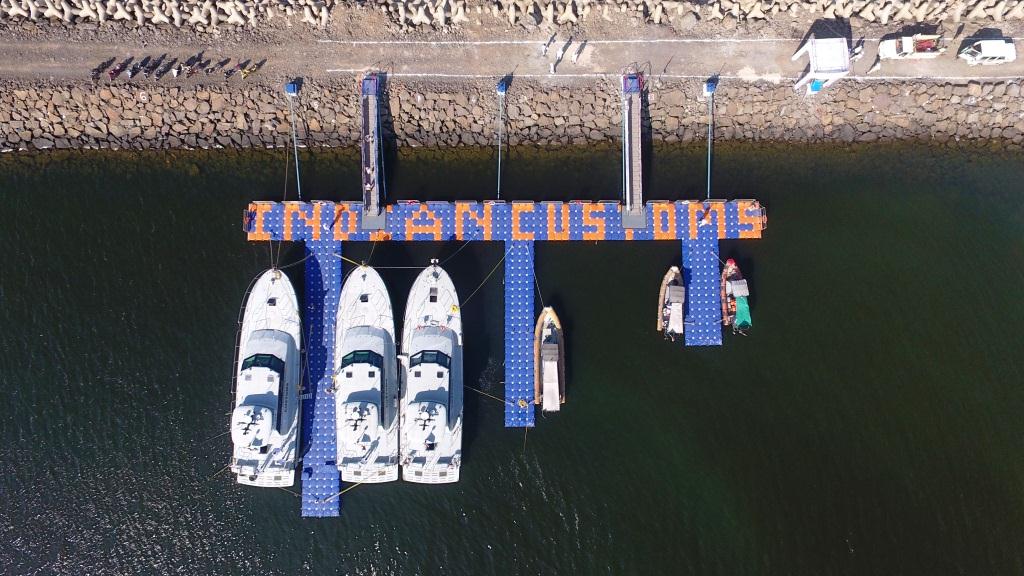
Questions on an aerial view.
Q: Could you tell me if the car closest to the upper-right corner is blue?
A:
No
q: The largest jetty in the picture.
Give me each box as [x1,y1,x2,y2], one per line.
[244,198,767,518]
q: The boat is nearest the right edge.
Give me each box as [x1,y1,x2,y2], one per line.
[719,259,751,333]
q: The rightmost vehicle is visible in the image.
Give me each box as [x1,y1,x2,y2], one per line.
[954,38,1016,68]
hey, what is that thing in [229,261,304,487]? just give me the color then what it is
white boat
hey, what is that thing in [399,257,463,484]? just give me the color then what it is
white boat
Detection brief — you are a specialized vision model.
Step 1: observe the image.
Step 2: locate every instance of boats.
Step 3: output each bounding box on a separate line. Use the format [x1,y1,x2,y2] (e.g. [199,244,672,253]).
[533,308,565,412]
[333,258,399,483]
[229,261,304,487]
[719,259,751,333]
[655,266,688,337]
[399,257,463,484]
